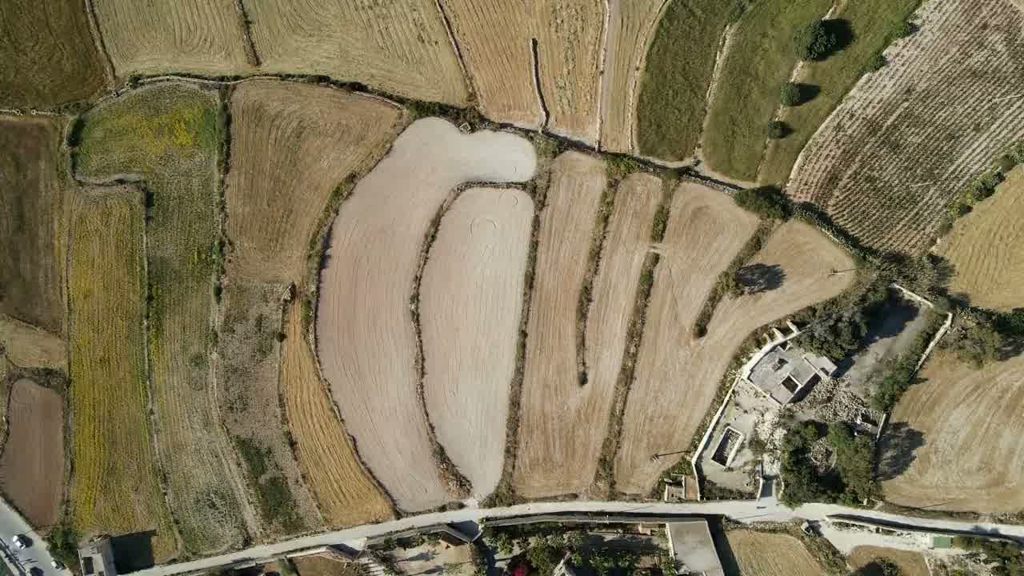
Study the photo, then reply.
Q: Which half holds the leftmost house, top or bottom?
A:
bottom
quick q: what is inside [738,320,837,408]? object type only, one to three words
house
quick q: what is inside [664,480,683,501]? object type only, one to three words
shed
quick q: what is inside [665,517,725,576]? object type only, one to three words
building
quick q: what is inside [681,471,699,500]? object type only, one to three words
shed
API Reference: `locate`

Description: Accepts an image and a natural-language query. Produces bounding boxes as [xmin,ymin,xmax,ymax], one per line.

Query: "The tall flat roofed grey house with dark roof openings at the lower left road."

[75,534,123,576]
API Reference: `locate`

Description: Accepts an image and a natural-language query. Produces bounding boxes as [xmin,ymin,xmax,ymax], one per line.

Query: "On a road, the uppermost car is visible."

[11,534,28,551]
